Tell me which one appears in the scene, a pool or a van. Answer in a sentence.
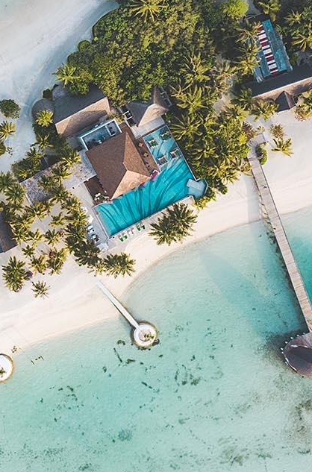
Looking from above, you can make out a pool.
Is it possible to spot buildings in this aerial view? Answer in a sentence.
Yes, this view includes a building.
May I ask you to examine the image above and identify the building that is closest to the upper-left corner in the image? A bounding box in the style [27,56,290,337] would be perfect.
[48,82,112,135]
